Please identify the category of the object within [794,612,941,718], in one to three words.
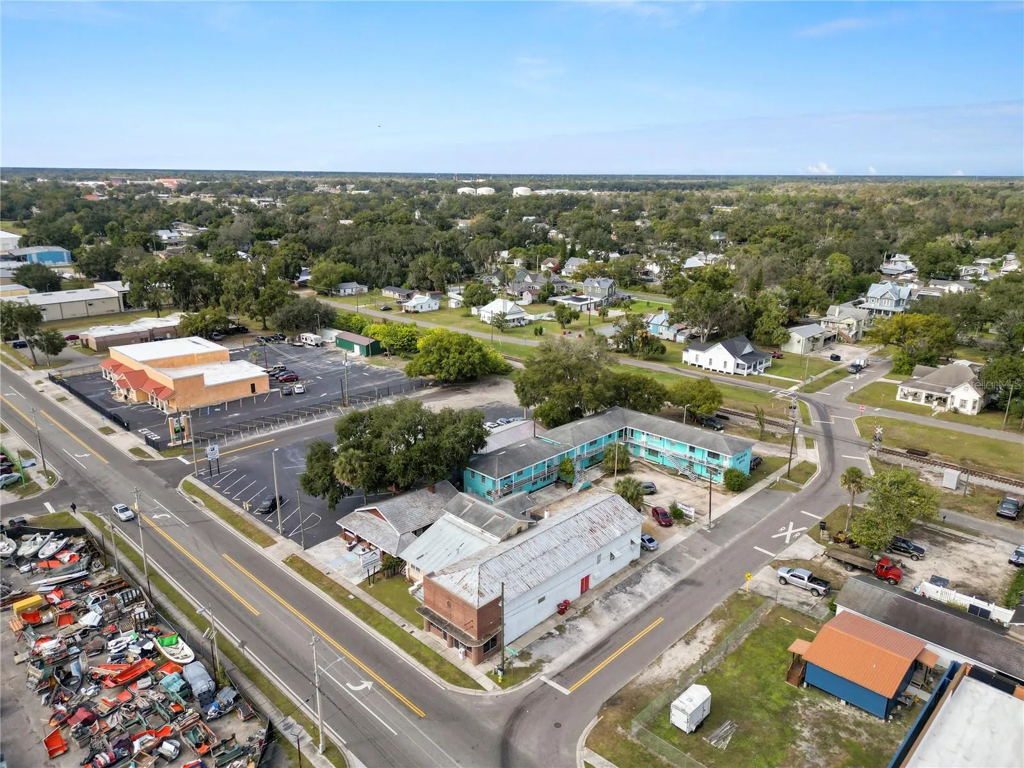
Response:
building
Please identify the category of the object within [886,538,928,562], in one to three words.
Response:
car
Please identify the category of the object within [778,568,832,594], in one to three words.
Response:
truck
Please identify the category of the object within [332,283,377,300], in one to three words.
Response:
house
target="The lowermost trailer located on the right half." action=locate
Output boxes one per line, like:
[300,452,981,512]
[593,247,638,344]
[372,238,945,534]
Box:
[675,682,708,728]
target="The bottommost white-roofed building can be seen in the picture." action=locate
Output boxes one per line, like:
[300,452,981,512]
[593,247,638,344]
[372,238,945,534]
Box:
[898,662,1024,768]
